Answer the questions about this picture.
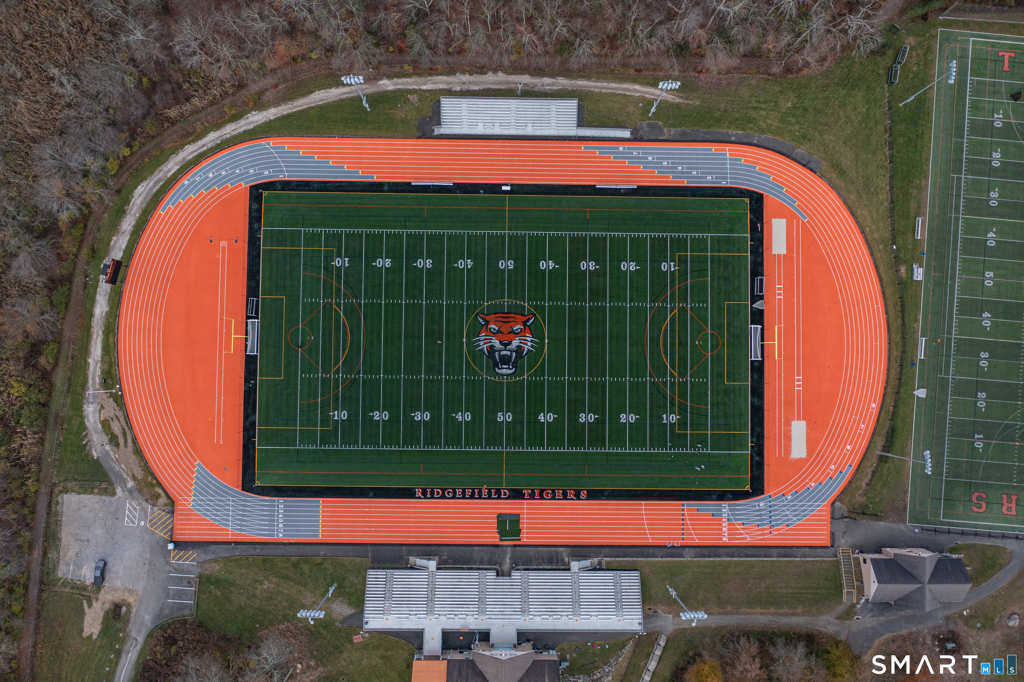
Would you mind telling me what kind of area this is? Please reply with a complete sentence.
The area seen from above is a sports ground.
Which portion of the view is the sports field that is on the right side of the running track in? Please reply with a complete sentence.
The sports field that is on the right side of the running track is in the right part of the image.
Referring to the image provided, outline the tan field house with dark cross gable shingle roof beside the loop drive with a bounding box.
[860,548,972,613]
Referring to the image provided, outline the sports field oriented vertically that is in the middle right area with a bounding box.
[907,28,1024,534]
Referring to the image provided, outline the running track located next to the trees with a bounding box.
[114,134,891,548]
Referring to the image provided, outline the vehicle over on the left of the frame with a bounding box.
[91,560,105,587]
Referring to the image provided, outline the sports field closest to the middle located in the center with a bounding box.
[241,180,764,502]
